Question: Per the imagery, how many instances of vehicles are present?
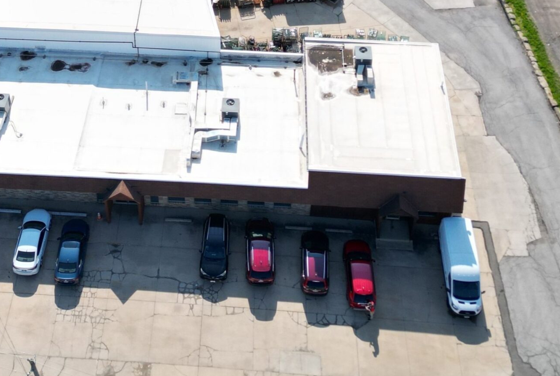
7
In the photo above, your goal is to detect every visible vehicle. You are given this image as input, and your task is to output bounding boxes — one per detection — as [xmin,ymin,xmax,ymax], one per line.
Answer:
[196,214,232,285]
[242,218,278,288]
[434,217,486,317]
[11,209,51,278]
[52,217,89,289]
[341,240,377,313]
[297,229,333,300]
